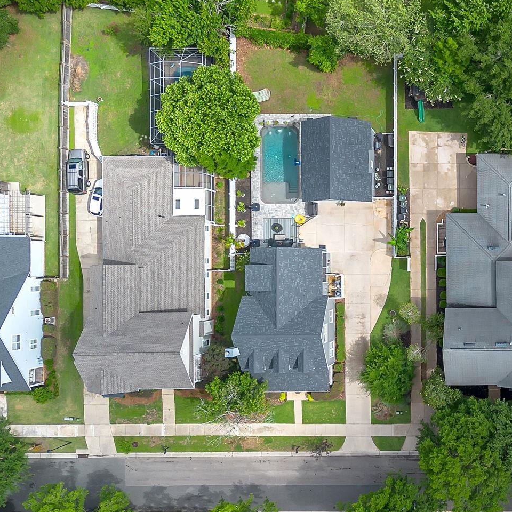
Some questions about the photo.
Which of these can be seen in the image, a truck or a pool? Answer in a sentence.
Looking from above, you can make out a pool.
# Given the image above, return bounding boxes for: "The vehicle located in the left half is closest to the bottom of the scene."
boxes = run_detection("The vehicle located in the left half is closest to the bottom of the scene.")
[84,174,102,215]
